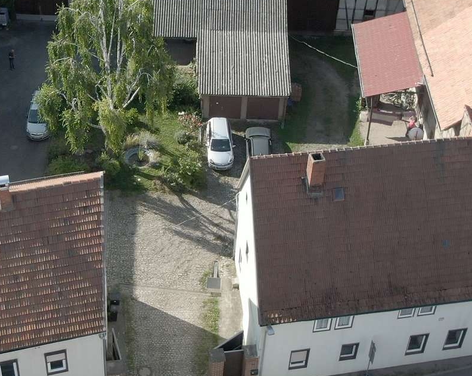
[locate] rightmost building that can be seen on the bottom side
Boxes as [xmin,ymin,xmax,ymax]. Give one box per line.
[234,134,472,376]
